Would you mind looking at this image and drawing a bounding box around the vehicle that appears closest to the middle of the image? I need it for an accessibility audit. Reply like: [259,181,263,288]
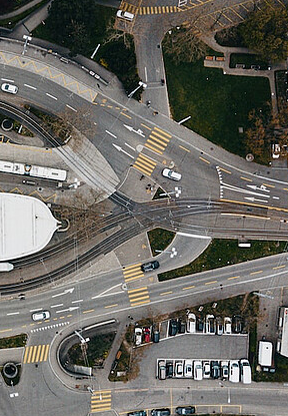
[162,168,182,181]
